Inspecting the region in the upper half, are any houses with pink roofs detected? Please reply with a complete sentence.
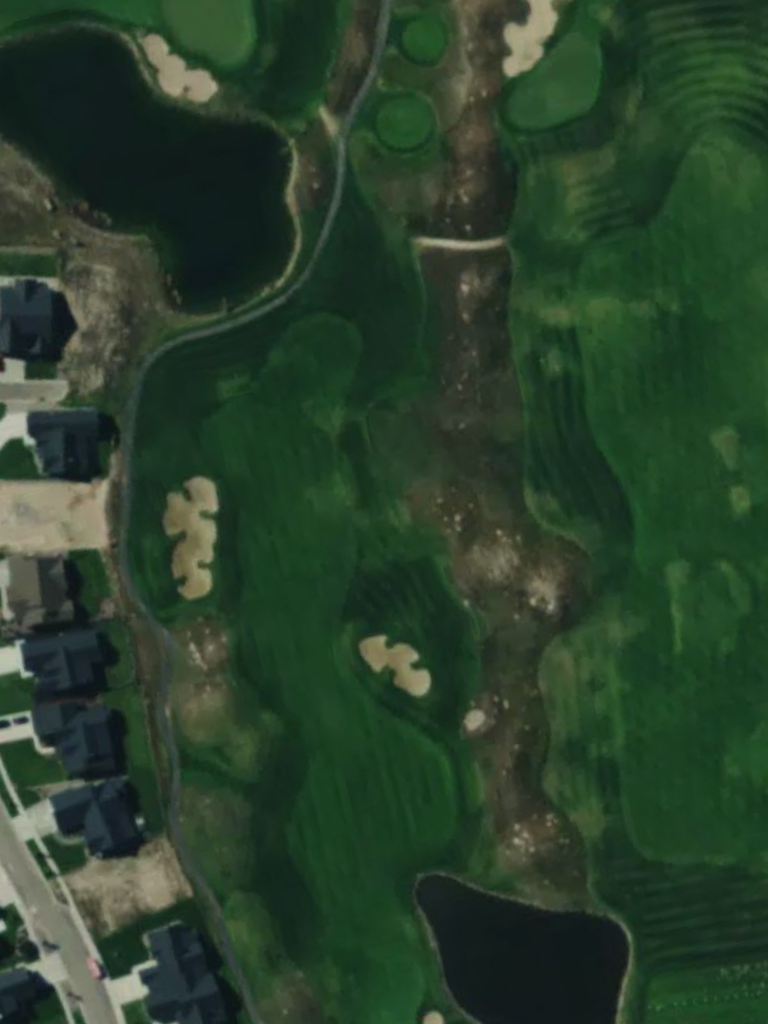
No, the scene shows no house with a pink roof in the upper half.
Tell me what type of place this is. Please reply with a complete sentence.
This image shows a golf course.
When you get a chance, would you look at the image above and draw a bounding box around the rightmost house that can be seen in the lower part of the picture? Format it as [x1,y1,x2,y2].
[137,921,224,1024]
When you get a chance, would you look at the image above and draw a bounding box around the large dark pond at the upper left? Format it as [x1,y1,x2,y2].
[0,26,296,313]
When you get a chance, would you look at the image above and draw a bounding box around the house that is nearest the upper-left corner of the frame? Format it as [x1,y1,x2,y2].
[0,278,56,359]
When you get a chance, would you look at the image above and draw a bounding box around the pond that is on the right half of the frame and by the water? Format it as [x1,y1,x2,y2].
[416,874,630,1024]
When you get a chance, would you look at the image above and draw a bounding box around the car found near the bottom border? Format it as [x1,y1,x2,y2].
[86,956,102,978]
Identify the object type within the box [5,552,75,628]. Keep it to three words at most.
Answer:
house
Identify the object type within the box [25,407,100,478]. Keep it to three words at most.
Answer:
house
